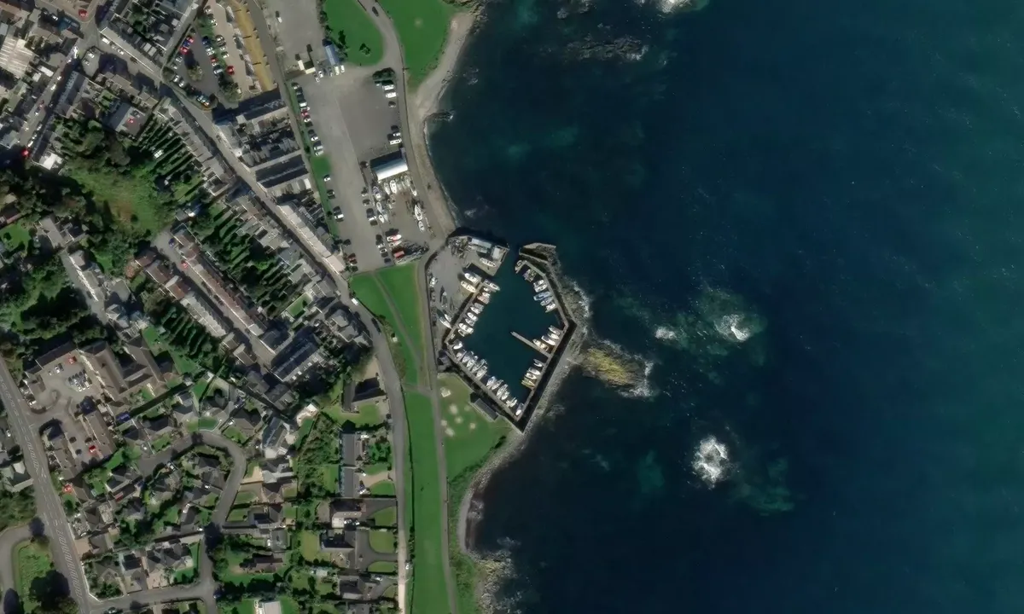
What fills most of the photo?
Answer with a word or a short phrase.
water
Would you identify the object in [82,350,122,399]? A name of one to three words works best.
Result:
building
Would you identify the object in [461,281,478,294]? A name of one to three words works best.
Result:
boat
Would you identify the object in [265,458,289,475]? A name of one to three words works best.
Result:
house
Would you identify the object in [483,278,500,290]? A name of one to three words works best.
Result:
boat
